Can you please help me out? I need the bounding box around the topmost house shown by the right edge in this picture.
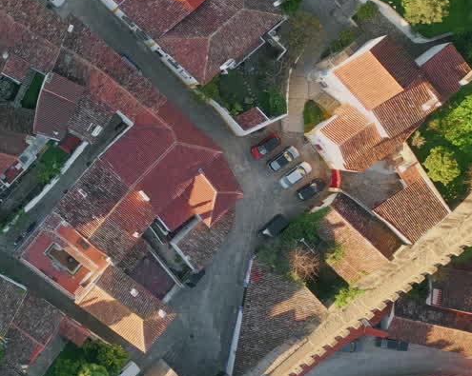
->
[310,35,472,173]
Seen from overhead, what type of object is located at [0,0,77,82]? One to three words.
house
